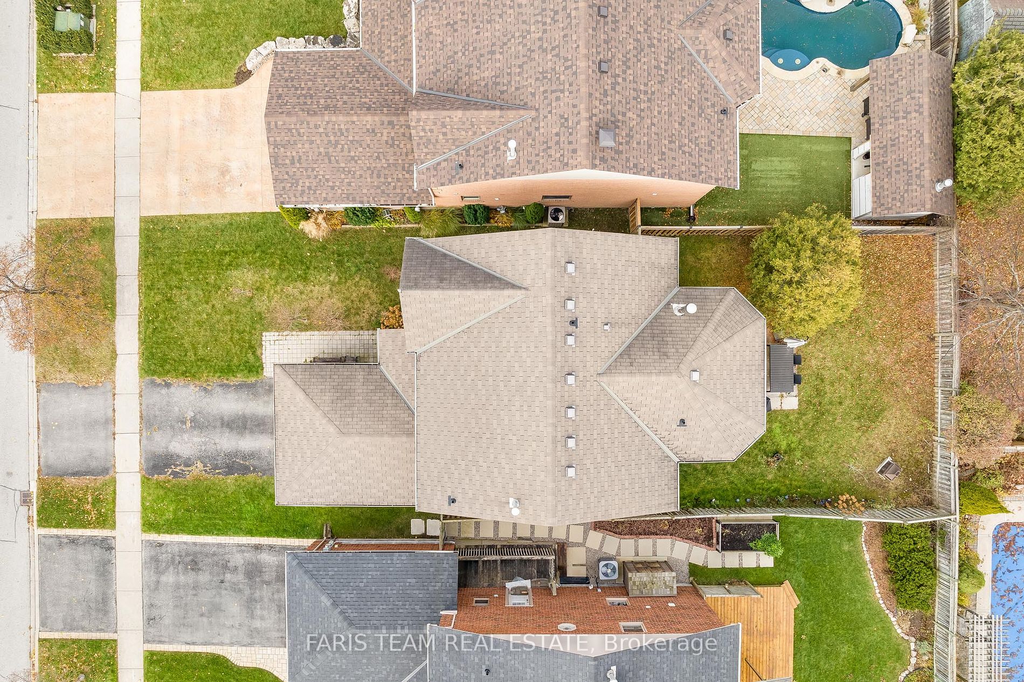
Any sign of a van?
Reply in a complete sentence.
No, there isn't any van down there.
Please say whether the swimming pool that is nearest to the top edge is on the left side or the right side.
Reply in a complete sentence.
The swimming pool that is nearest to the top edge sits on the right side.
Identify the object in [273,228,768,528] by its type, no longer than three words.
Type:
house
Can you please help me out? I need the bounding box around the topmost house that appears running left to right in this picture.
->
[264,0,762,224]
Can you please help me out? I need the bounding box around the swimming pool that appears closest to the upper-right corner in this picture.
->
[762,0,903,71]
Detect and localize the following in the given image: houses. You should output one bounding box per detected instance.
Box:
[273,228,768,528]
[264,0,762,224]
[284,533,743,682]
